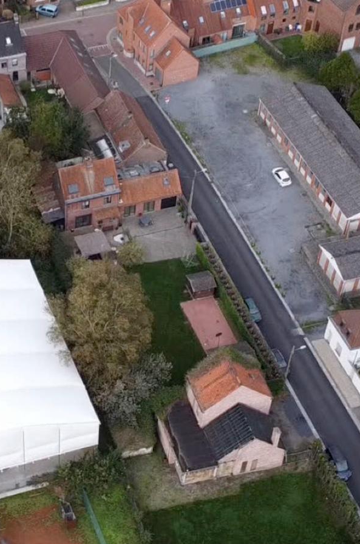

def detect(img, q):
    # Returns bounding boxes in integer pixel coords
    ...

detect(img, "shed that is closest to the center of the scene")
[182,269,219,300]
